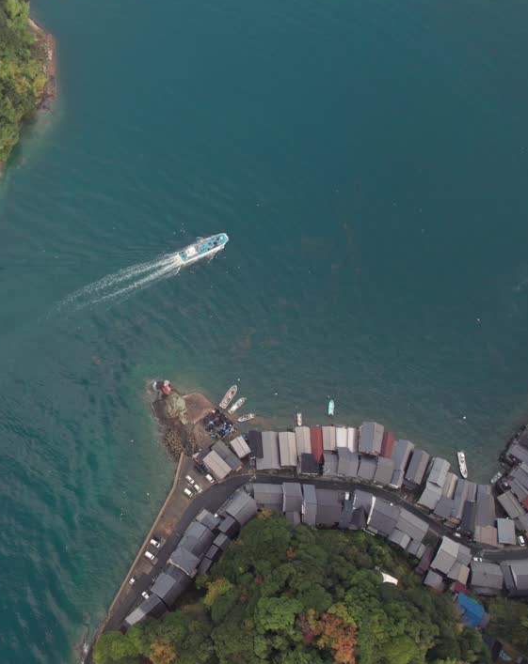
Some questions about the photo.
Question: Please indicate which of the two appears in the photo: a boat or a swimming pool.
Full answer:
I can see a boat in this picture.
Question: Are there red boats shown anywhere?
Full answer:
No, there's no red boat here.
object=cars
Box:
[194,483,202,492]
[185,475,195,484]
[472,556,483,563]
[516,535,527,548]
[140,590,152,601]
[453,531,462,539]
[182,488,194,498]
[196,464,208,474]
[143,550,155,562]
[128,577,135,586]
[149,538,161,549]
[205,472,215,484]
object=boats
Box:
[328,400,334,417]
[456,451,466,479]
[238,413,255,422]
[219,384,238,410]
[227,397,247,416]
[176,232,229,263]
[489,471,503,484]
[296,411,302,427]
